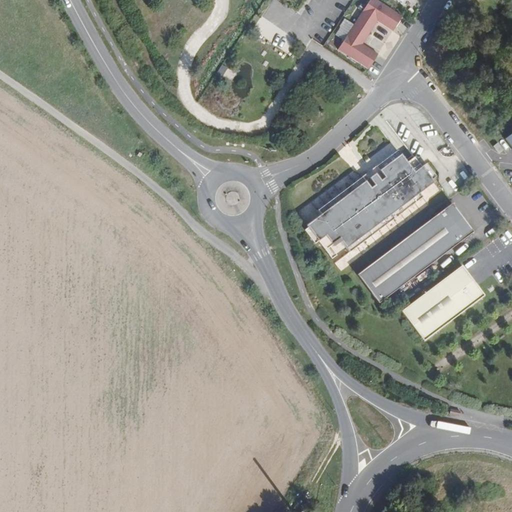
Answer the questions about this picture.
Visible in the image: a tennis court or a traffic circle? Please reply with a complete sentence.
The one in the frame is a traffic circle.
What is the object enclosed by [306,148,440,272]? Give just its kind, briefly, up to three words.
building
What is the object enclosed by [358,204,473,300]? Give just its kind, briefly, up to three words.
building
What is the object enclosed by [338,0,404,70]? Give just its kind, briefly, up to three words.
house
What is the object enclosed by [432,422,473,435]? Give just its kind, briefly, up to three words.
vehicle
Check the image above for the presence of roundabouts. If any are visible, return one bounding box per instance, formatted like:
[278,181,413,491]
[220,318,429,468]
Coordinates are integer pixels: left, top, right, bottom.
[198,163,268,234]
